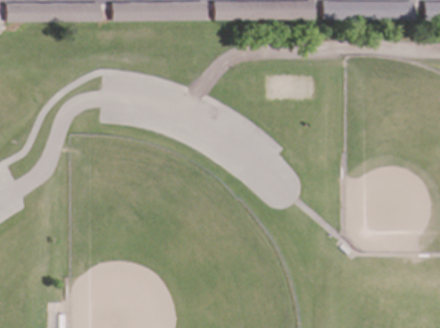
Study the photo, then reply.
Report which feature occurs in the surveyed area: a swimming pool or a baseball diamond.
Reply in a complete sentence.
I can see a baseball diamond in this picture.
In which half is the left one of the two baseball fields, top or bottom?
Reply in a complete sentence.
The bottom half of the photo is where the left one of the two baseball fields is.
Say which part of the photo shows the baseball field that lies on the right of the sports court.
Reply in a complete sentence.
The baseball field that lies on the right of the sports court is located in the right region of the scene.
